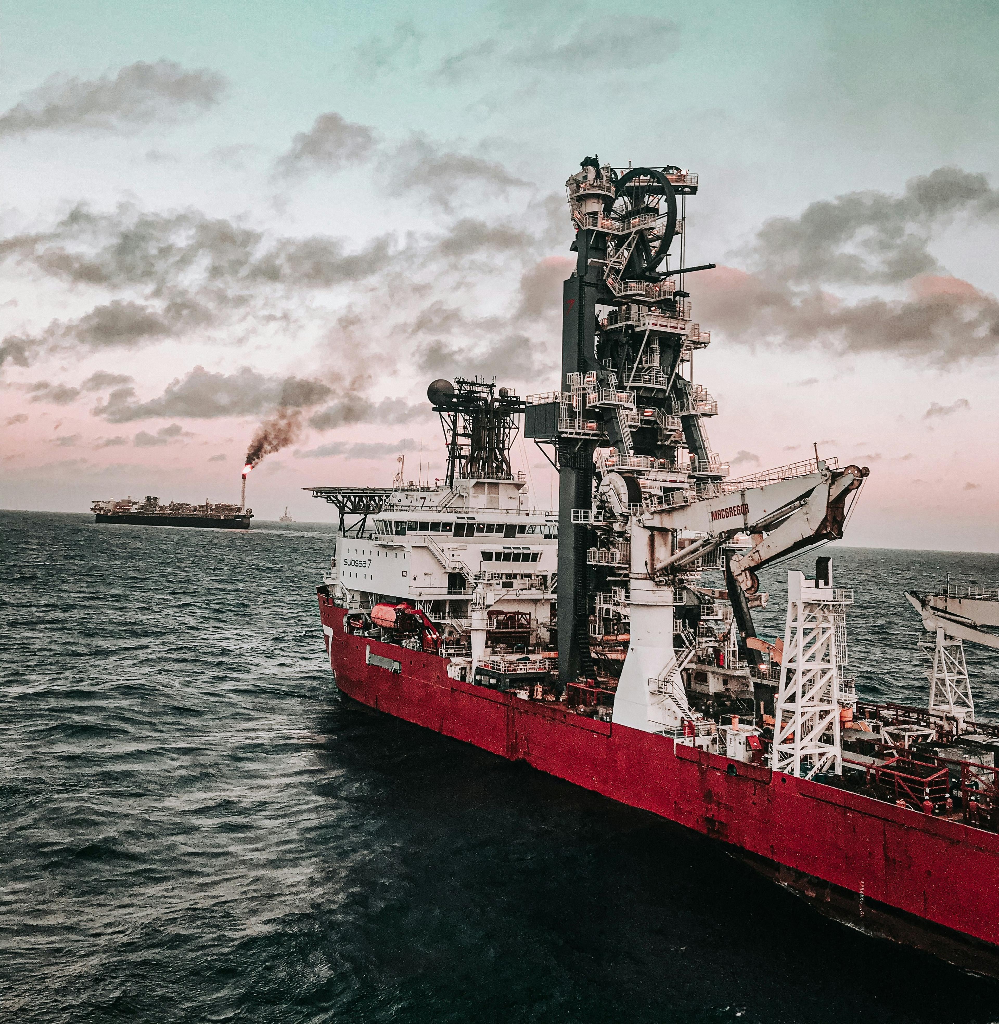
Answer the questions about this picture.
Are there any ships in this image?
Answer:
Yes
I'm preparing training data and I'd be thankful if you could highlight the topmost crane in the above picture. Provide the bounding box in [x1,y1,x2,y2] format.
[560,154,617,221]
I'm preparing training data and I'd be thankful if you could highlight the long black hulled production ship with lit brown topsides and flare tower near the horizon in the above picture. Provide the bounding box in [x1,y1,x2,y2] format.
[92,474,256,529]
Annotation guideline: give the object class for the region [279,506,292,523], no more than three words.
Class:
ship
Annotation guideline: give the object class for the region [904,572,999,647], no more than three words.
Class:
crane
